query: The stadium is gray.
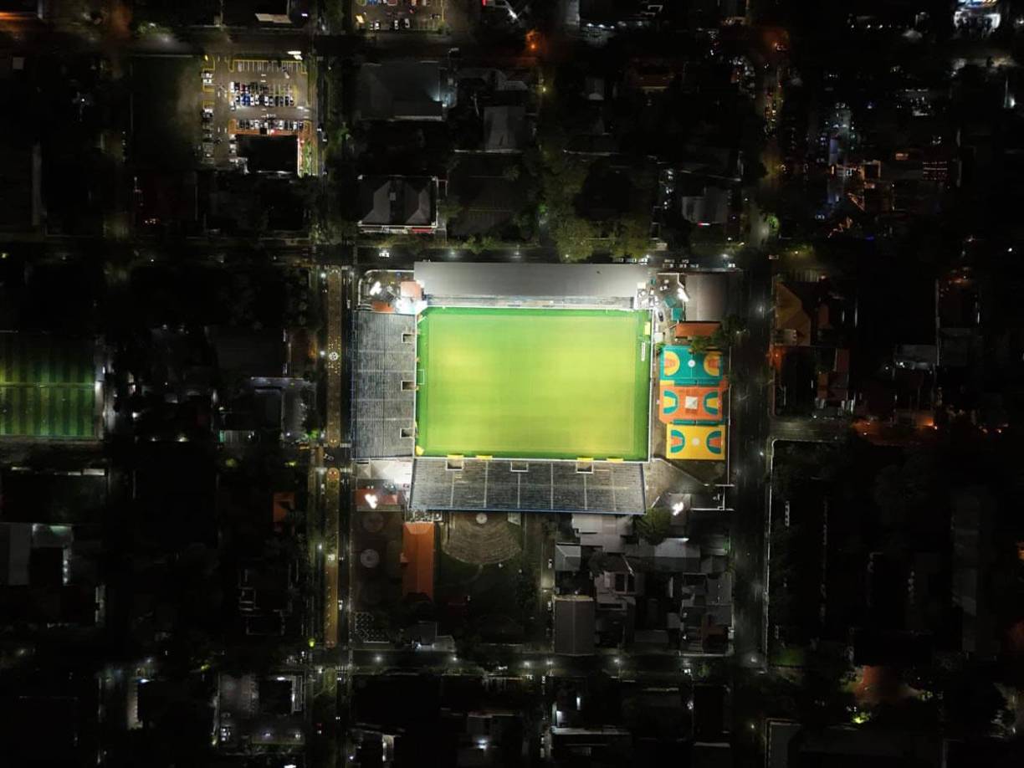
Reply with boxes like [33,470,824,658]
[351,262,657,514]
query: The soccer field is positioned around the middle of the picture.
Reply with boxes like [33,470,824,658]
[417,307,649,459]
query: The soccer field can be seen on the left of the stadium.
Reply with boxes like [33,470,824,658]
[0,332,95,437]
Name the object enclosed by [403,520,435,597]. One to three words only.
building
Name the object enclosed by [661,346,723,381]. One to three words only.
basketball court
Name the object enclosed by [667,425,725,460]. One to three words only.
basketball court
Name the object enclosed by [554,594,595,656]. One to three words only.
house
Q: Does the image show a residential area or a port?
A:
residential area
